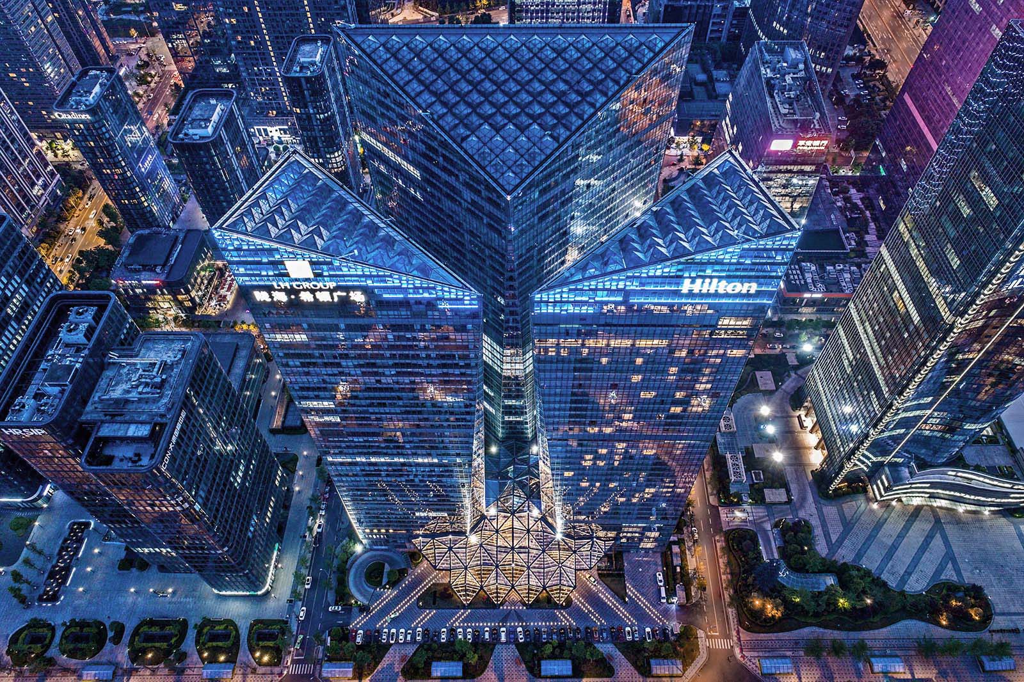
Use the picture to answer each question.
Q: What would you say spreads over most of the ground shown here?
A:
buildings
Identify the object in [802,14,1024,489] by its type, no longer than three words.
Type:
building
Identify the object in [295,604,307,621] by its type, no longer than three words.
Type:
vehicle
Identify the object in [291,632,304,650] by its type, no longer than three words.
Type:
vehicle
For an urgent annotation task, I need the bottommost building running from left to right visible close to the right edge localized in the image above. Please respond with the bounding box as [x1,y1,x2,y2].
[873,466,1024,511]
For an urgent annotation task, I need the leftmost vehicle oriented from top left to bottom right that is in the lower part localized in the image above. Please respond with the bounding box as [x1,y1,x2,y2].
[585,571,600,586]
